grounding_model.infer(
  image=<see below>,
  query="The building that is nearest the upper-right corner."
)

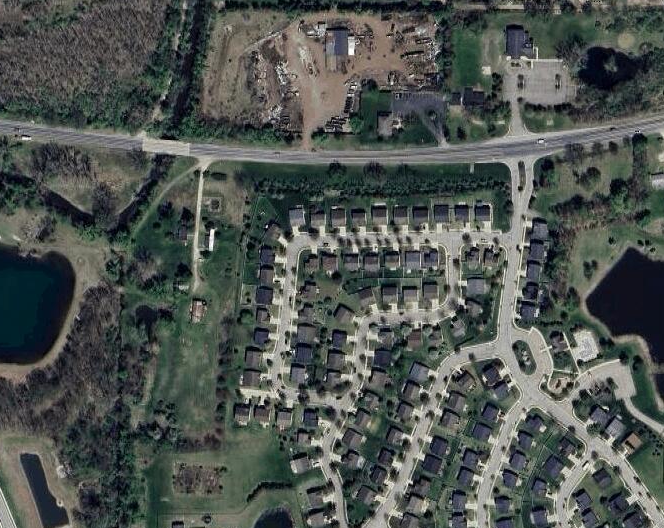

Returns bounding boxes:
[506,27,533,61]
